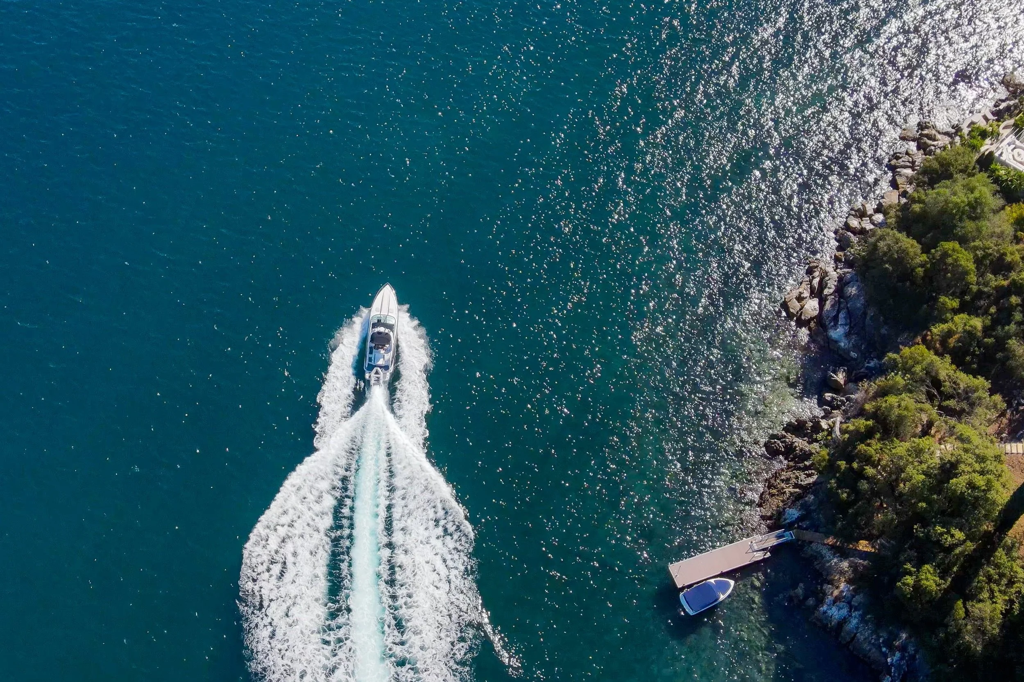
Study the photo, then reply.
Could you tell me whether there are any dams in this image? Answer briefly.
No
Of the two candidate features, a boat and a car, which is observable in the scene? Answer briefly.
boat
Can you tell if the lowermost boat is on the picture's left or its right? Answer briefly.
right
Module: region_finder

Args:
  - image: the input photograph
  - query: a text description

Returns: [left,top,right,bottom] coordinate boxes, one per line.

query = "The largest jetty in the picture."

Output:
[668,535,770,588]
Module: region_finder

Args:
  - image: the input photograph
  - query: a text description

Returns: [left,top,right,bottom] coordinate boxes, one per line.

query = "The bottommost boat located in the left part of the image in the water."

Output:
[371,366,384,387]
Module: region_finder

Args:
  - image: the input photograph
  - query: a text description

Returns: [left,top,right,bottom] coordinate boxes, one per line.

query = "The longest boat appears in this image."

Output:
[364,282,398,381]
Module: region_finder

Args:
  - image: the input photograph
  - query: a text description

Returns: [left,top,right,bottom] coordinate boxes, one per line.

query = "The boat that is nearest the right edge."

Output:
[680,574,735,617]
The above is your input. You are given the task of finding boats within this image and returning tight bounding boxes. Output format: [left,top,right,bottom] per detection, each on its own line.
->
[371,366,384,387]
[680,574,735,617]
[364,282,398,381]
